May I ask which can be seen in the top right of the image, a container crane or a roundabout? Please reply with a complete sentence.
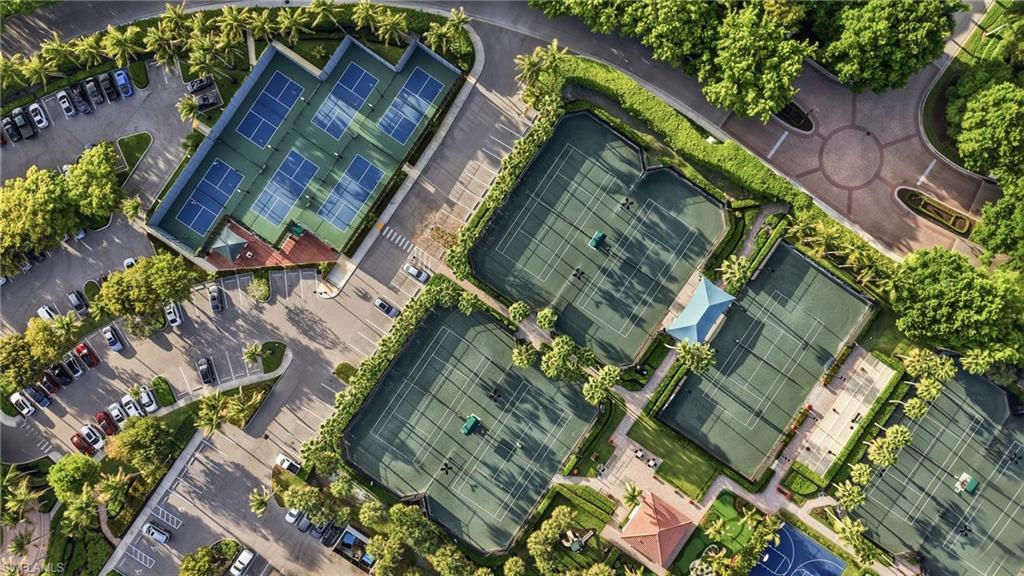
You can see a roundabout in the top right of the image.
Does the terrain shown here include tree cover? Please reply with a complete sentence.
Yes, there is tree cover in the image.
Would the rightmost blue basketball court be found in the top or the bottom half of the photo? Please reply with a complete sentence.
The bottom half of the photo is where the rightmost blue basketball court is.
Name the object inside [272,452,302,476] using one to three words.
truck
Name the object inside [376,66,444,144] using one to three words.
sports court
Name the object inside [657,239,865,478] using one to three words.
tennis court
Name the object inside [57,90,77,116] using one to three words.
car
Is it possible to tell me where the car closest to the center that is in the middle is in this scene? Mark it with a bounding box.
[403,263,429,281]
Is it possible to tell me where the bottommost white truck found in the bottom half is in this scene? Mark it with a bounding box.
[228,549,253,576]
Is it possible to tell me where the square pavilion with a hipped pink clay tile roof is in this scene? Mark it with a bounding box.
[620,491,696,568]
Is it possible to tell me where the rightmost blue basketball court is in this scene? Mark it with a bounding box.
[734,510,848,576]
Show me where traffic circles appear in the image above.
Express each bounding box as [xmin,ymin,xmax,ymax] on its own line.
[800,91,910,215]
